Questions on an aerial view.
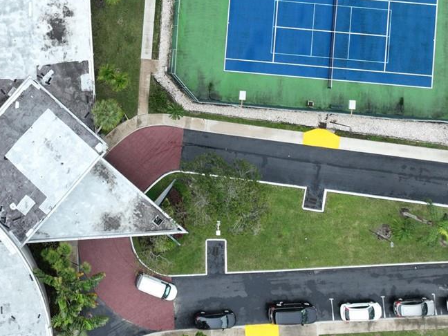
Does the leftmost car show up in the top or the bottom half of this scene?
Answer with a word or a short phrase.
bottom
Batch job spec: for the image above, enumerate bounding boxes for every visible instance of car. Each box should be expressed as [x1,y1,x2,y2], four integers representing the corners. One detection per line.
[193,308,235,330]
[134,272,176,300]
[338,300,381,322]
[267,301,316,326]
[392,296,434,319]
